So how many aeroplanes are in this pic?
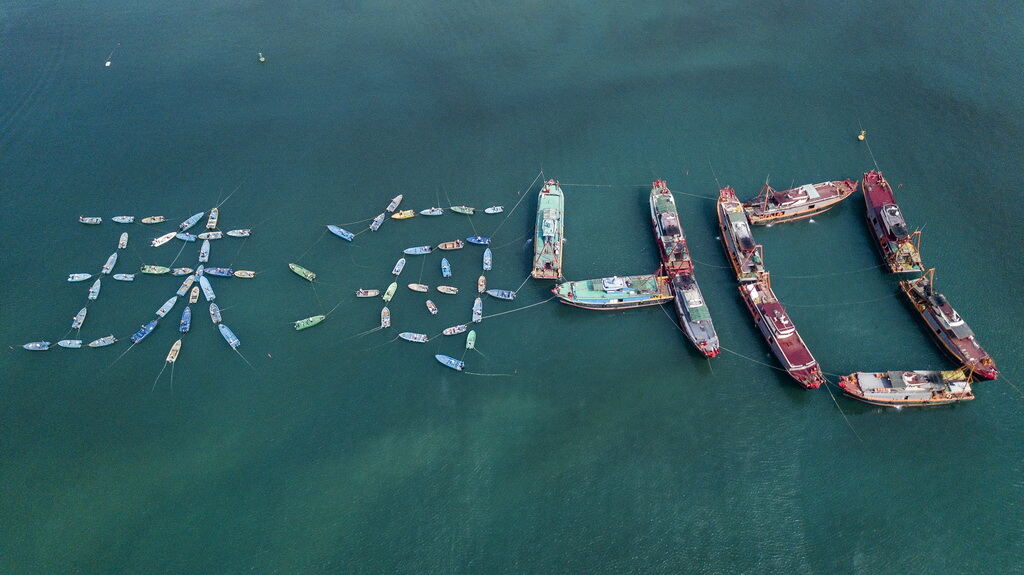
0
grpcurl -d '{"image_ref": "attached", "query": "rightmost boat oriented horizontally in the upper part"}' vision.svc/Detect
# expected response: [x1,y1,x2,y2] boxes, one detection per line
[745,178,857,226]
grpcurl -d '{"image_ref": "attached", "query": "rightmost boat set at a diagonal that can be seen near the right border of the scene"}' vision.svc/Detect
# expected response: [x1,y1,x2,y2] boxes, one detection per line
[900,269,1001,379]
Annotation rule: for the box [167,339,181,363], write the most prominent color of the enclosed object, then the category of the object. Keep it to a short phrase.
white boat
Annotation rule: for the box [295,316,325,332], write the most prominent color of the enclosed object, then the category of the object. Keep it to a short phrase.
green boat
